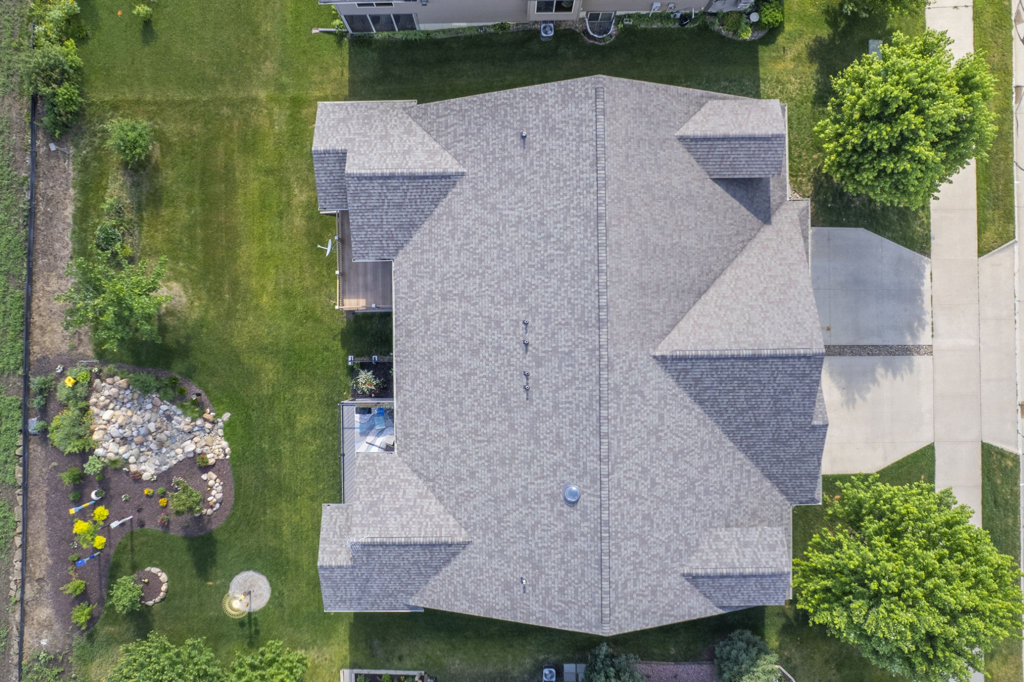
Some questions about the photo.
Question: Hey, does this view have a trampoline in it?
No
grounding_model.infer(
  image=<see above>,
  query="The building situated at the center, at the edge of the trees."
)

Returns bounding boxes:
[313,75,830,636]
